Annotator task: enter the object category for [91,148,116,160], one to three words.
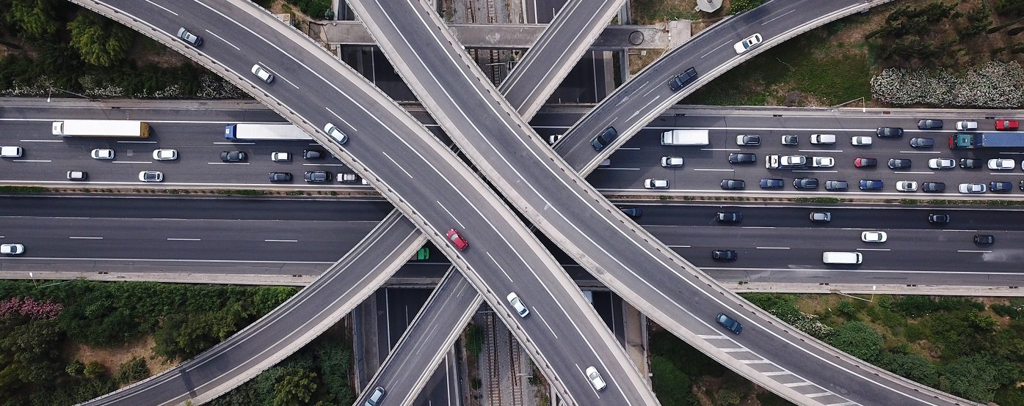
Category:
vehicle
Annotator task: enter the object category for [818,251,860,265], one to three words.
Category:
vehicle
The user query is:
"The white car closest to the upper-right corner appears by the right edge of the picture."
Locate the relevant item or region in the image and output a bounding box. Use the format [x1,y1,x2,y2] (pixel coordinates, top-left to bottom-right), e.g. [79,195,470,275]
[954,119,978,131]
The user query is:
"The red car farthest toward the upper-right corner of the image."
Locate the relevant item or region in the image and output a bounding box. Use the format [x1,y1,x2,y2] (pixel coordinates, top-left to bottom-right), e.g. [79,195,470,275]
[993,118,1020,130]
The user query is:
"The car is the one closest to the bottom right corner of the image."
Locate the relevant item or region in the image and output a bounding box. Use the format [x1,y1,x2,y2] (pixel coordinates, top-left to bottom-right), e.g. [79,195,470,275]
[972,234,994,246]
